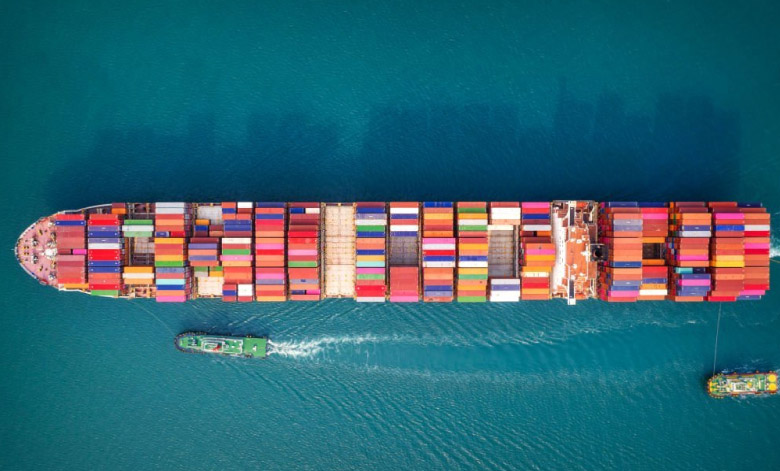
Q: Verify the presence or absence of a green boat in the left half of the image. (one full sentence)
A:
Yes, a green boat shows up in the left half of the image.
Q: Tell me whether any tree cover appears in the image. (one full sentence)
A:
No, there's no tree cover in this view.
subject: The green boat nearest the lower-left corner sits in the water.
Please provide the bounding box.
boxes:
[174,332,267,358]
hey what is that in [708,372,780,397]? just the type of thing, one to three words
boat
